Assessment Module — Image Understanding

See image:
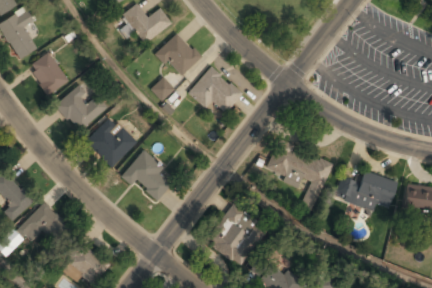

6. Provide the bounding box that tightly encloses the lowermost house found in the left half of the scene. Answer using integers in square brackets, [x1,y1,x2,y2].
[64,249,108,283]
